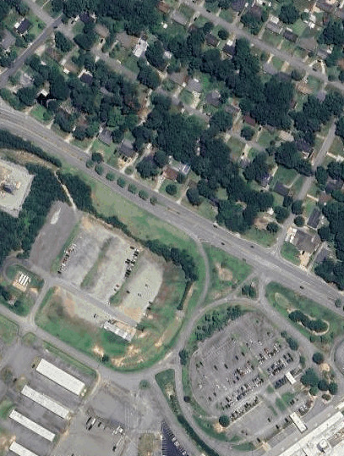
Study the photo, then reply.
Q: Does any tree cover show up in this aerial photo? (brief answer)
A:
Yes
